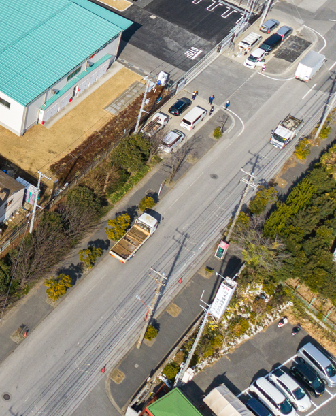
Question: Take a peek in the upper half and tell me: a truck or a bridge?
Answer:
truck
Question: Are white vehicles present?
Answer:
Yes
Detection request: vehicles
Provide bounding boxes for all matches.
[241,44,268,69]
[249,373,300,416]
[267,364,317,413]
[262,31,284,55]
[268,114,305,149]
[257,18,282,36]
[295,337,336,388]
[140,110,171,142]
[291,48,329,82]
[167,96,194,118]
[239,29,265,53]
[103,209,163,267]
[159,129,184,154]
[278,24,296,43]
[180,102,208,130]
[282,351,334,403]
